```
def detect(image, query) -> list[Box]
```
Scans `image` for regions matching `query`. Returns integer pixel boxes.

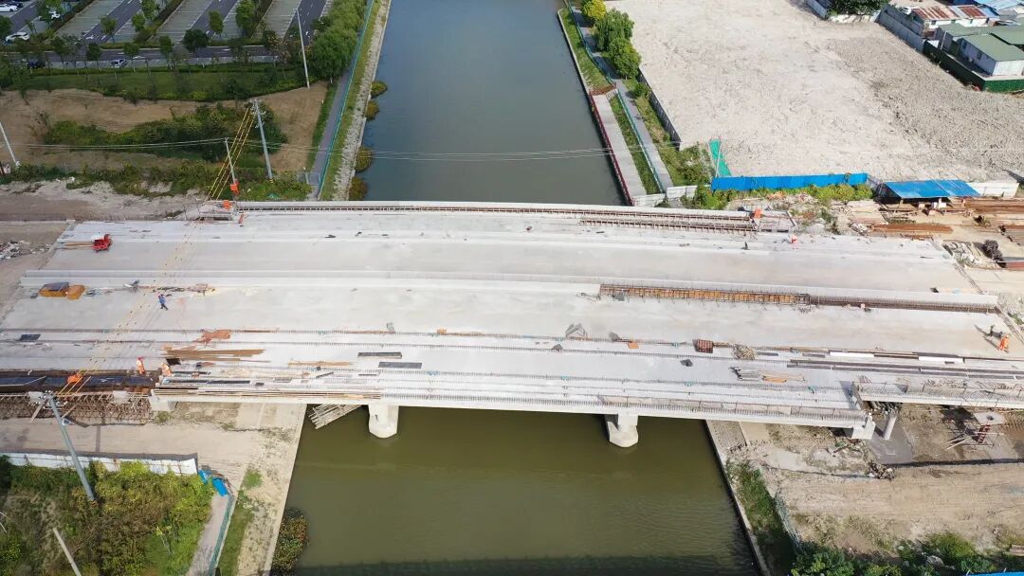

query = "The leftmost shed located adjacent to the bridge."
[880,179,981,211]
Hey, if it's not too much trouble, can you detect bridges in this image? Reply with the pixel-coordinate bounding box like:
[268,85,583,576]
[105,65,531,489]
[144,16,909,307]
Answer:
[0,197,1024,447]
